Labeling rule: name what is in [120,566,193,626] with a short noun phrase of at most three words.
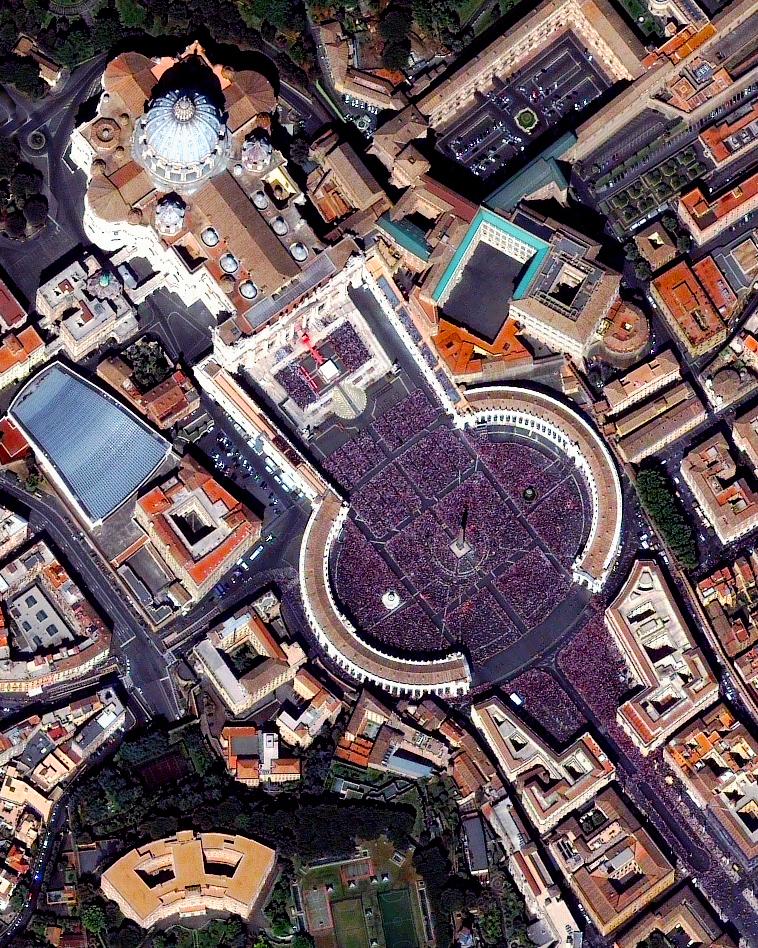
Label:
building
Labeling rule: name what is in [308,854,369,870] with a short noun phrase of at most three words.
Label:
shed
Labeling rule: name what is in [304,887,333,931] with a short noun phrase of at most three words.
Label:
basketball court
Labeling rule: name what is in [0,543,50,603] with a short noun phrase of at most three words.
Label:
house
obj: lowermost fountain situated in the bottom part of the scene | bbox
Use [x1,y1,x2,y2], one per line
[381,592,402,610]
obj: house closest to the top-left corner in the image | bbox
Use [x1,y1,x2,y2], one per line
[12,32,63,89]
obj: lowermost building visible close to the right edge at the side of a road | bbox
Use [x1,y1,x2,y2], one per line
[615,884,740,948]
